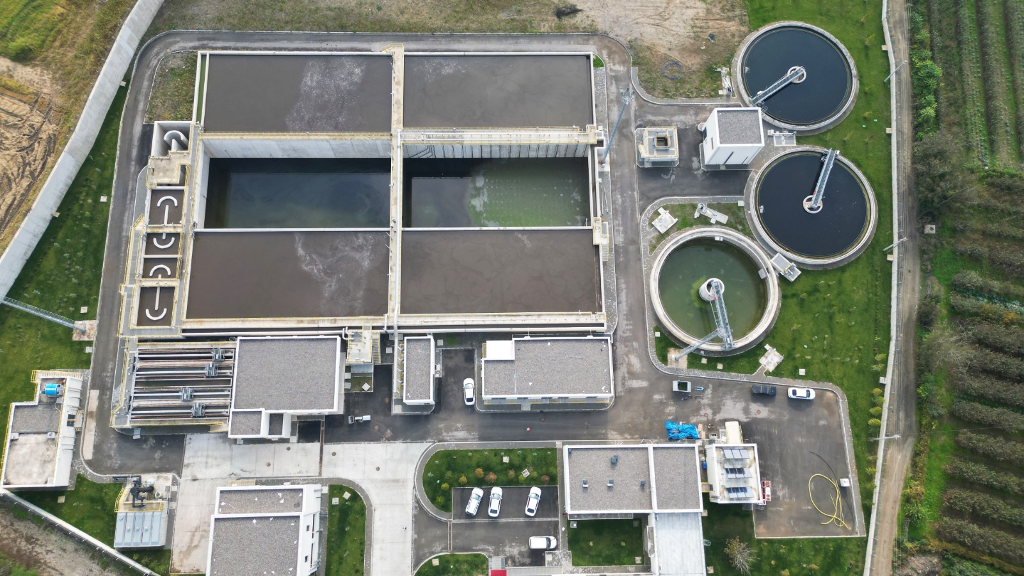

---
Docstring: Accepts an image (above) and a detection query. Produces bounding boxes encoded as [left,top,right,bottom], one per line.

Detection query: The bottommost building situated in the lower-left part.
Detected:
[205,480,321,576]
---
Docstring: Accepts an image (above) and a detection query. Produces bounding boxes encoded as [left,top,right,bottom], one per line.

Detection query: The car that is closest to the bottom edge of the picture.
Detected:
[529,535,558,551]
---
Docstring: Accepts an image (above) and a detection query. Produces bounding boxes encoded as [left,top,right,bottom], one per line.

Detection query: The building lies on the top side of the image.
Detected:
[703,107,764,168]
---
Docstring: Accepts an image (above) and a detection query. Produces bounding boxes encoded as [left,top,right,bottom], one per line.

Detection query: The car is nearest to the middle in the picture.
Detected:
[462,378,476,406]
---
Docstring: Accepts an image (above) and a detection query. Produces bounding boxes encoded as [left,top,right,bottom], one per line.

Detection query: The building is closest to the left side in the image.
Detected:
[0,369,87,487]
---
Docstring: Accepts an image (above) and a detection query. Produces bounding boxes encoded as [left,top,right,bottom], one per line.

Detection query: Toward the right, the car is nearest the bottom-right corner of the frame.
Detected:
[786,388,815,401]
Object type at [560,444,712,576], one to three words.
building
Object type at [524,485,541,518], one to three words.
car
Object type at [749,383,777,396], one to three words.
vehicle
